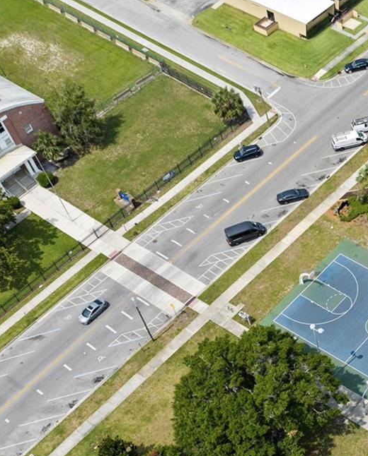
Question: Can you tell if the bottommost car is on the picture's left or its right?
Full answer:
The bottommost car is on the left side of the image.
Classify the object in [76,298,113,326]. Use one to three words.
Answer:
car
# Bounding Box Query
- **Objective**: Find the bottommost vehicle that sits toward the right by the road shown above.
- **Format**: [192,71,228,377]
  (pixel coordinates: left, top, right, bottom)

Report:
[225,220,266,245]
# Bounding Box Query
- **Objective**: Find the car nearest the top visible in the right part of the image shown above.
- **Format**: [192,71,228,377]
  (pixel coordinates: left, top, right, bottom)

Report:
[345,59,368,73]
